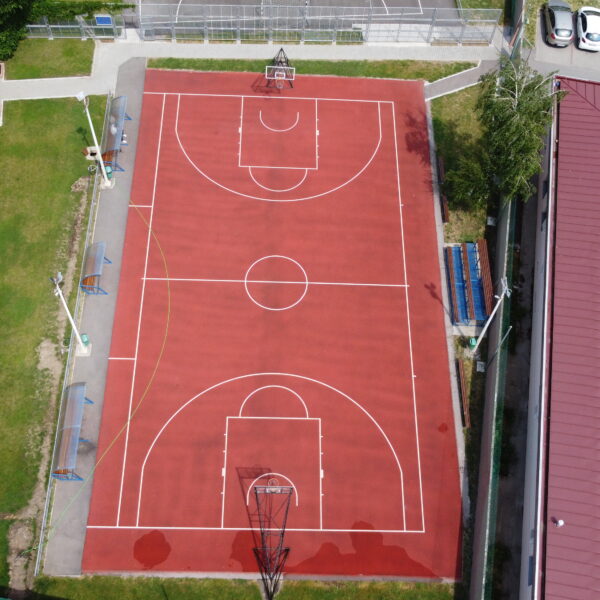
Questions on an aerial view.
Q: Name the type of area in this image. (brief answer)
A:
sports ground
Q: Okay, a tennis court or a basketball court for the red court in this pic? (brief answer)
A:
basketball court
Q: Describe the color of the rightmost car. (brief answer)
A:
white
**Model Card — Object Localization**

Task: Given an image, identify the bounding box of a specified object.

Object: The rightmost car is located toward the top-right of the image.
[578,5,600,50]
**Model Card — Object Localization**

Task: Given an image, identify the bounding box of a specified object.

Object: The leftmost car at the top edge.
[546,0,579,45]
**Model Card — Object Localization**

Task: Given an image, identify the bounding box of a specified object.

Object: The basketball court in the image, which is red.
[81,67,473,584]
